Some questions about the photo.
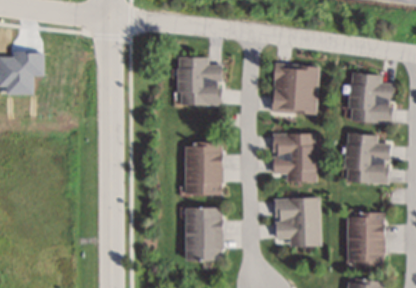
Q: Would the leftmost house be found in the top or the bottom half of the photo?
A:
top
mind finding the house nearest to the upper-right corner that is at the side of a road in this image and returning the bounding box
[342,74,396,123]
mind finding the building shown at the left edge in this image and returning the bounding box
[0,50,44,95]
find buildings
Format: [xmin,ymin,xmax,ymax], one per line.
[180,206,223,264]
[174,56,222,108]
[180,142,223,198]
[274,134,318,182]
[0,50,44,95]
[342,74,396,123]
[348,134,390,184]
[271,62,321,116]
[276,198,322,248]
[348,212,386,266]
